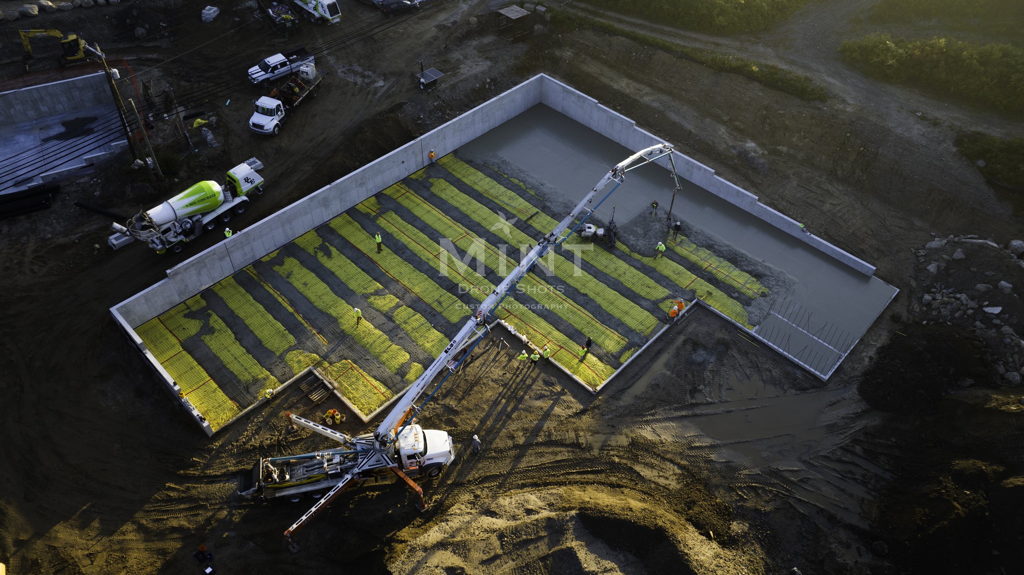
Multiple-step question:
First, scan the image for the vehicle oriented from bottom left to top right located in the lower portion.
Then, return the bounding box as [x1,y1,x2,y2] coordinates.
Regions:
[238,140,679,558]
